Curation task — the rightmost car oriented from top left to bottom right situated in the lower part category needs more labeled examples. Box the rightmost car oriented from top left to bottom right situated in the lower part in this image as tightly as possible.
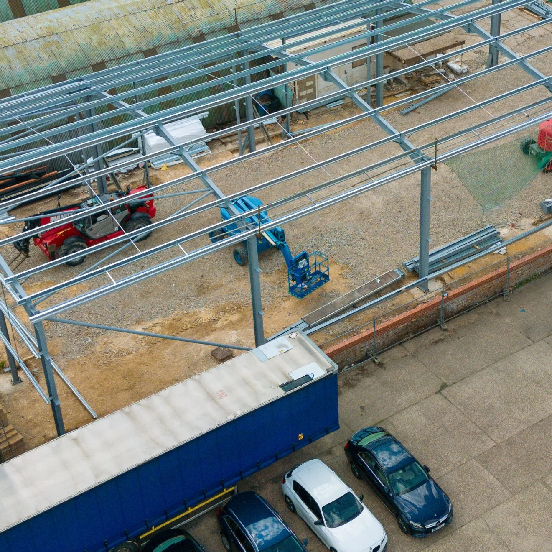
[341,425,457,540]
